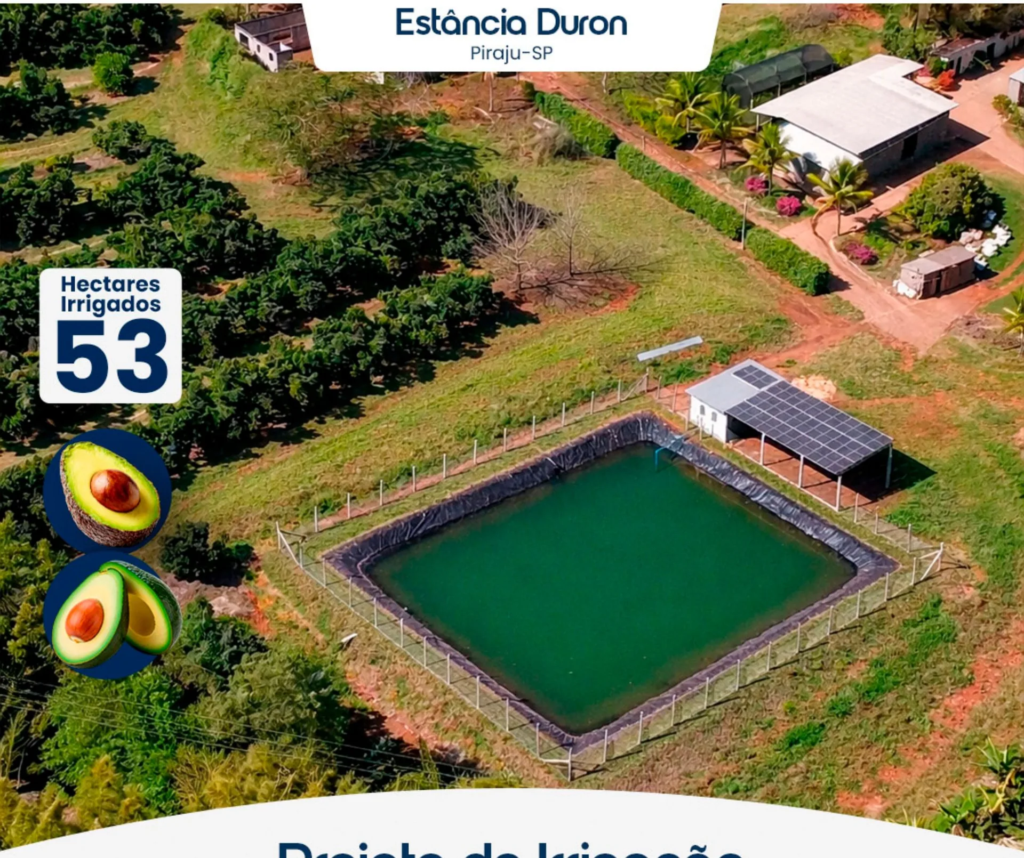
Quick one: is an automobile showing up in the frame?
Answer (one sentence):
No, the photo shows no automobile.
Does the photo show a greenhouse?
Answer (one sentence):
Yes, there's a greenhouse here.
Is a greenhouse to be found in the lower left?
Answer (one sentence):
No, no greenhouse can be made out in the lower left.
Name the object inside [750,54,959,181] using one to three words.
house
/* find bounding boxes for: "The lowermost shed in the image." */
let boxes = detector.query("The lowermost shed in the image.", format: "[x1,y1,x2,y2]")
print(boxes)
[685,355,900,511]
